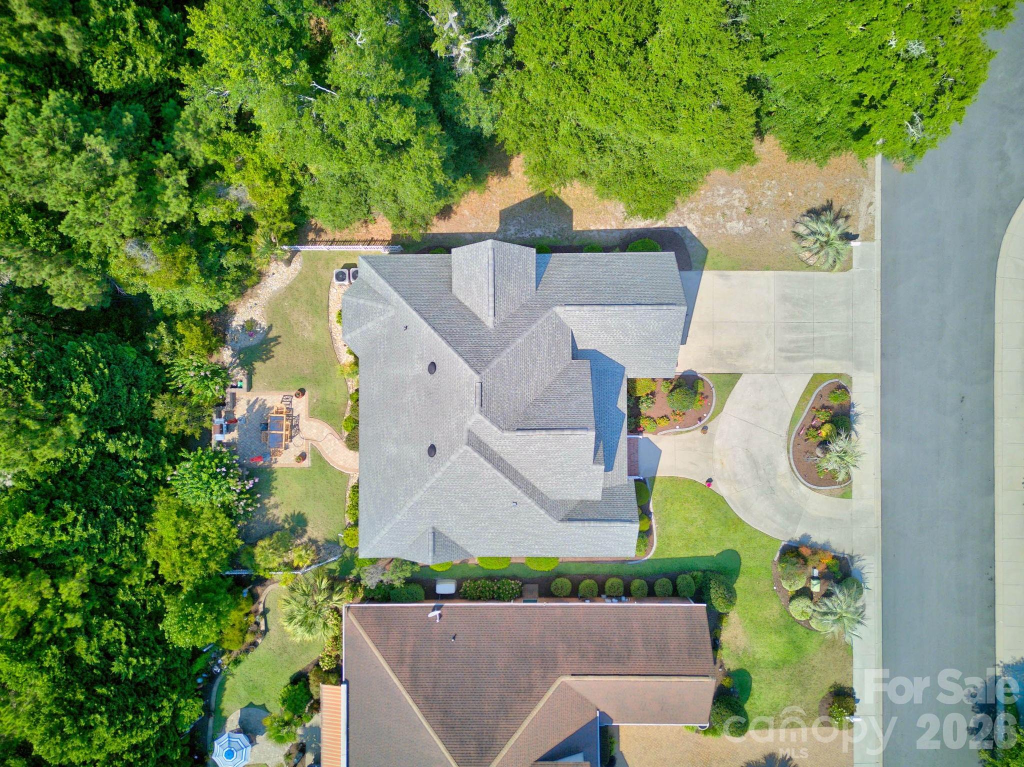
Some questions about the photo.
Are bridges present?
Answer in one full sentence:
No, no bridge is visible in the scene.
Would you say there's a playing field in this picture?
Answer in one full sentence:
No, the photo shows no playing field.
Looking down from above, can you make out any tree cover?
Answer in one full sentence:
Yes, there is tree cover in the image.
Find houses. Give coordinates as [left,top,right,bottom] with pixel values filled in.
[341,241,687,566]
[342,596,716,767]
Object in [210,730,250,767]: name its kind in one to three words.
umbrella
